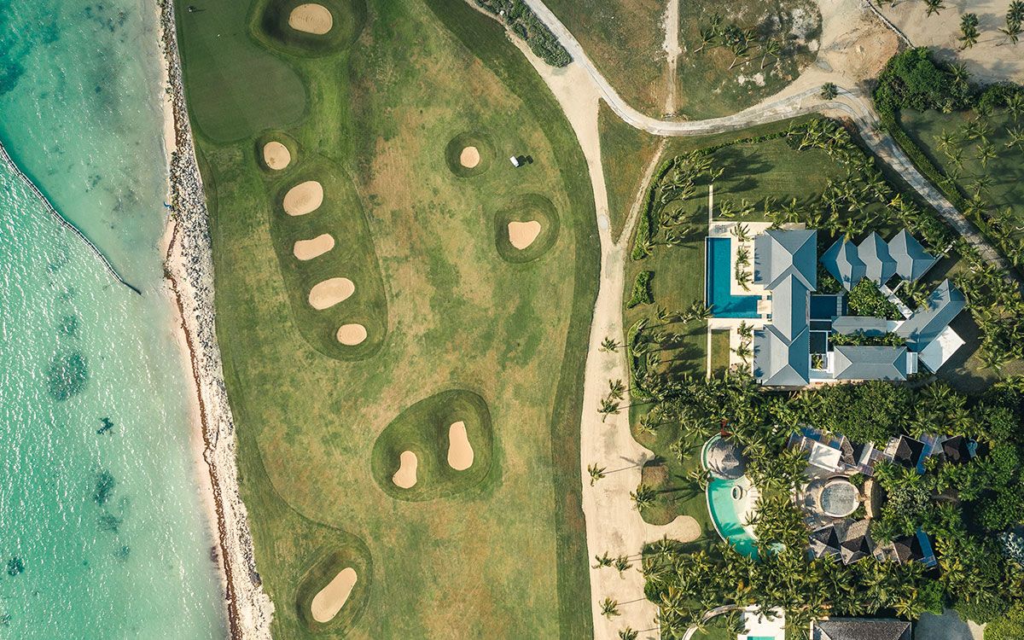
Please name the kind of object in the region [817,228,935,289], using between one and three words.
house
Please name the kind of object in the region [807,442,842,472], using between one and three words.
house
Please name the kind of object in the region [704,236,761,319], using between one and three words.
swimming pool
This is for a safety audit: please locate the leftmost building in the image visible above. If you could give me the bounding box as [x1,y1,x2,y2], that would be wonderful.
[704,437,745,478]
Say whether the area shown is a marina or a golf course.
golf course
